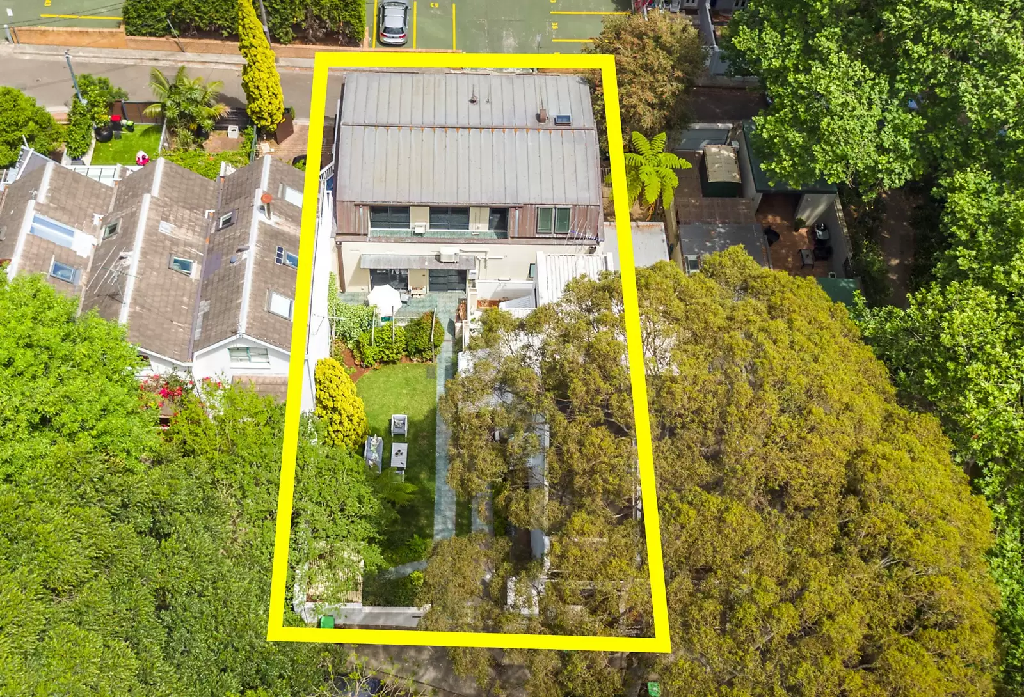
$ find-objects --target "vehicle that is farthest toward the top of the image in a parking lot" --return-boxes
[377,0,411,42]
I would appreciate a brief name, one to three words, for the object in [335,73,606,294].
house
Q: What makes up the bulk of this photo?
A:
trees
